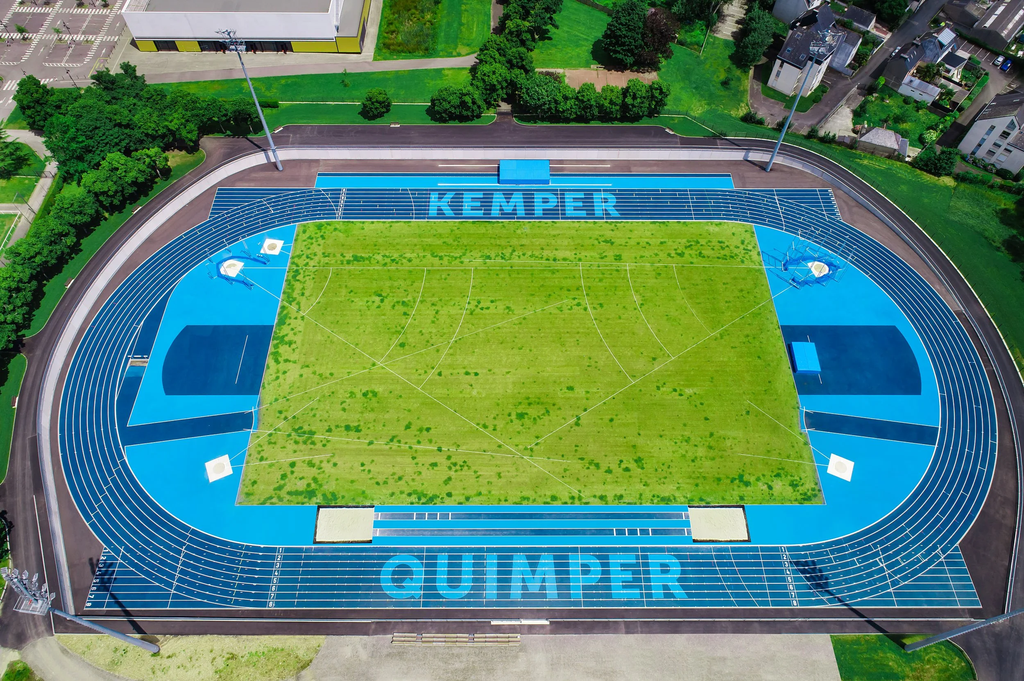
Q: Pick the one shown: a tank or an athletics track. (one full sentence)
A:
There is an athletics track in the scene.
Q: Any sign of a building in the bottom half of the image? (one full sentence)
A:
No, no building appears in the bottom half of the image.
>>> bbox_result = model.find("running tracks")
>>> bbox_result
[58,172,998,609]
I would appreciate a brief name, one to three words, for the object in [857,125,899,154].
house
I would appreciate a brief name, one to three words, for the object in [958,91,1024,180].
house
